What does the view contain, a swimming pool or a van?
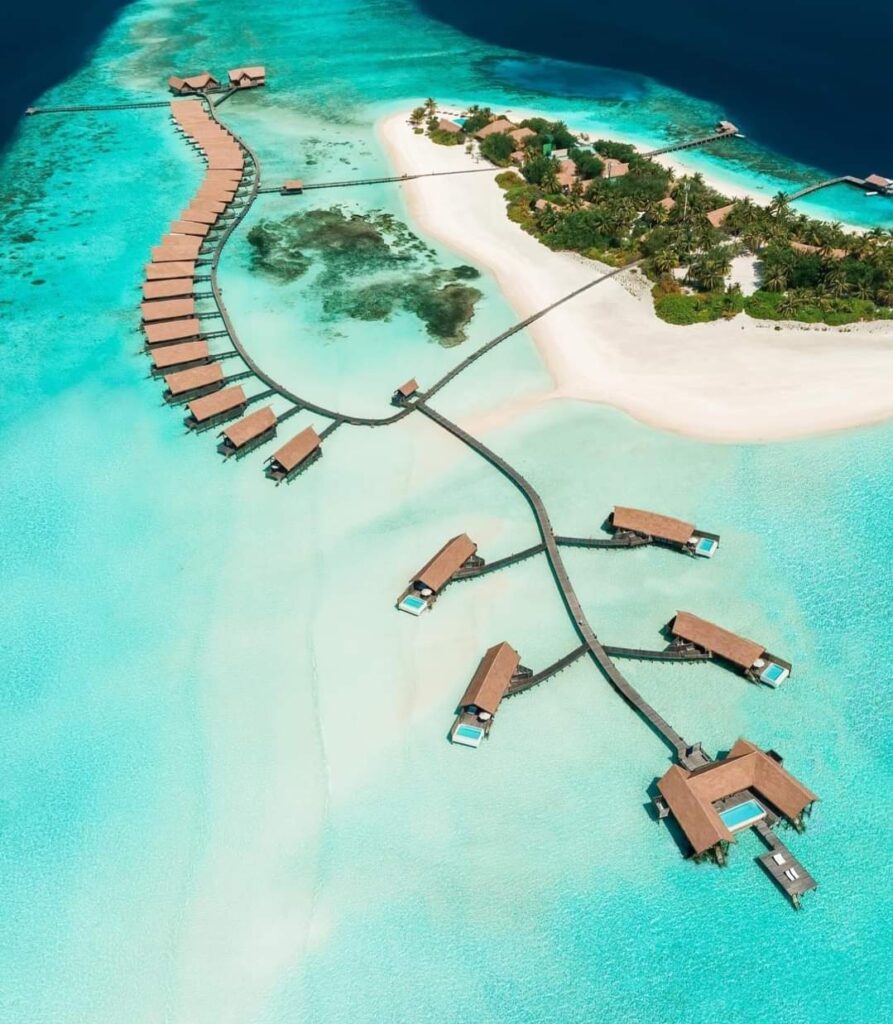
swimming pool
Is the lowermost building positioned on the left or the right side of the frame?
right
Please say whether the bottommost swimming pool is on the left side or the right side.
right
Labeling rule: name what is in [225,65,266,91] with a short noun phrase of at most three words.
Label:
house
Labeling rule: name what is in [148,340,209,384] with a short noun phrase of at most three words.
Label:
house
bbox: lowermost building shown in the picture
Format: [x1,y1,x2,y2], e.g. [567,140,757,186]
[645,737,815,876]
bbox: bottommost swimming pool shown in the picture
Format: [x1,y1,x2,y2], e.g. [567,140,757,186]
[718,797,766,832]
